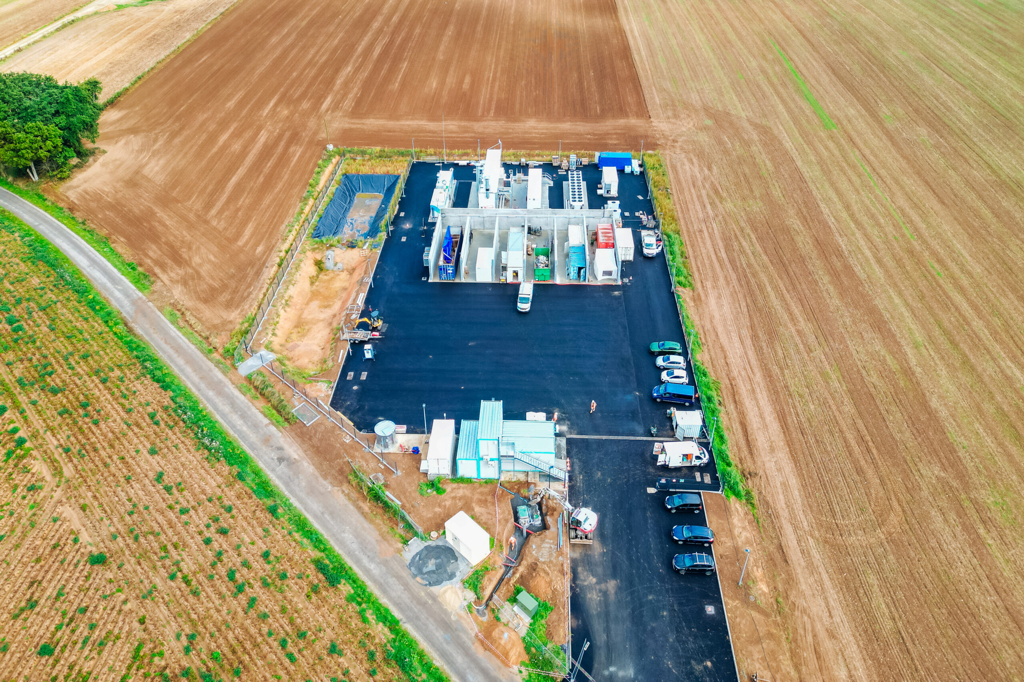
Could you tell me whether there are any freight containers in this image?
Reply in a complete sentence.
Yes, the photo shows a freight container.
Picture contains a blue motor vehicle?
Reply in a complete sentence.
Yes, a blue motor vehicle can be made out from above.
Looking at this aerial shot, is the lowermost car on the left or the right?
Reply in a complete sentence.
The lowermost car appears in the right half of the scene.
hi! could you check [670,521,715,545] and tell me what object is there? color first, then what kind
blue car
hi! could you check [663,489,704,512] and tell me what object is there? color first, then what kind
blue car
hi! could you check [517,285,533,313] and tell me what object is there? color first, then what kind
white vehicle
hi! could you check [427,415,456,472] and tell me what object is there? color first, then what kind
white shipping container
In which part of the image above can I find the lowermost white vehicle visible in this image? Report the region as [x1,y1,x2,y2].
[527,486,597,539]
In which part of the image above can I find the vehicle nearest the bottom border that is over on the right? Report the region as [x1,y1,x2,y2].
[671,548,718,574]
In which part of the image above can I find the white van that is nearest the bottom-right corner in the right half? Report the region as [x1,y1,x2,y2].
[653,435,706,463]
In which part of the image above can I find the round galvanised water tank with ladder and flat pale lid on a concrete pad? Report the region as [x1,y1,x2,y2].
[376,420,401,454]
